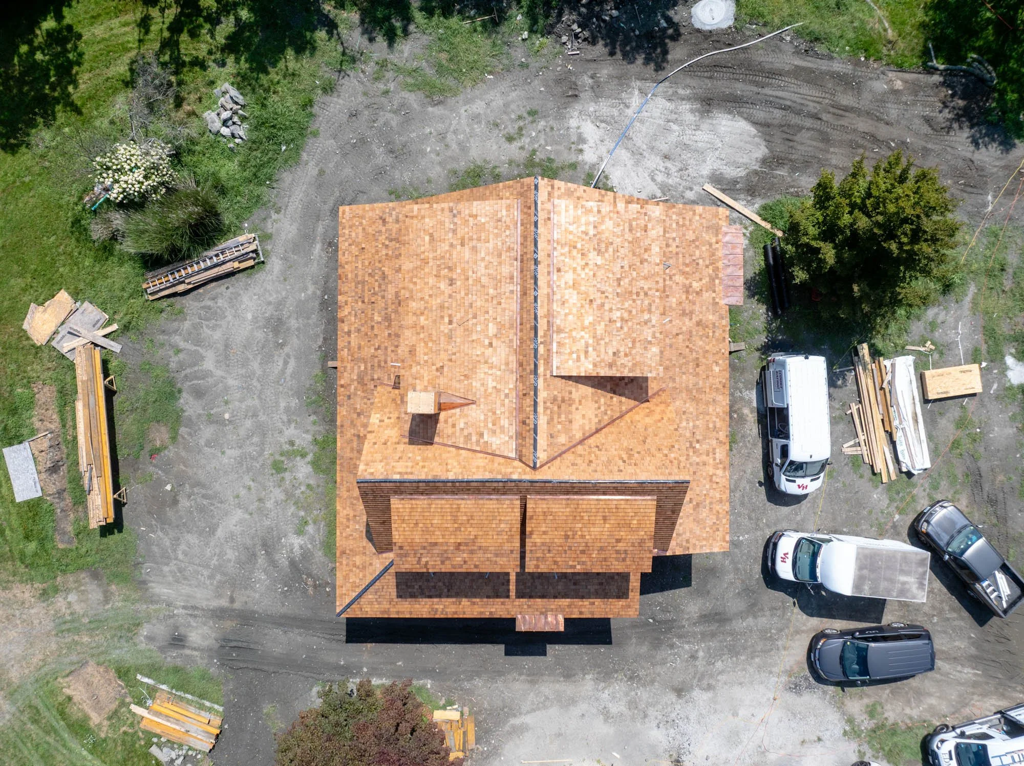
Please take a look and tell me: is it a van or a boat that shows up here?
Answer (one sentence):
Of the two, only a van appears.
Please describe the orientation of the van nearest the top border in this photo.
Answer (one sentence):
From this overhead view, the van nearest the top border appears to run from top to bottom.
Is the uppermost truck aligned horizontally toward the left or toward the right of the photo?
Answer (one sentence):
The uppermost truck aligned horizontally is on the right side of the image.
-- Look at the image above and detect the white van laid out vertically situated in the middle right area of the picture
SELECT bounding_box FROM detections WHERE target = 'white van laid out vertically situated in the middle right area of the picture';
[763,354,833,495]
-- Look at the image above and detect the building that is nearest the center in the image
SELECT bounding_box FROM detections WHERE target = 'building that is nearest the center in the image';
[328,176,745,632]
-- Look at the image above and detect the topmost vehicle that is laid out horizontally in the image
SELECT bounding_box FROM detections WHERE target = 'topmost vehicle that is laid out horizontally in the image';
[764,530,932,604]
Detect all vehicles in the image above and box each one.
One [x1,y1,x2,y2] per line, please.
[926,698,1024,766]
[809,621,941,686]
[763,354,833,495]
[916,499,1024,621]
[764,530,932,604]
